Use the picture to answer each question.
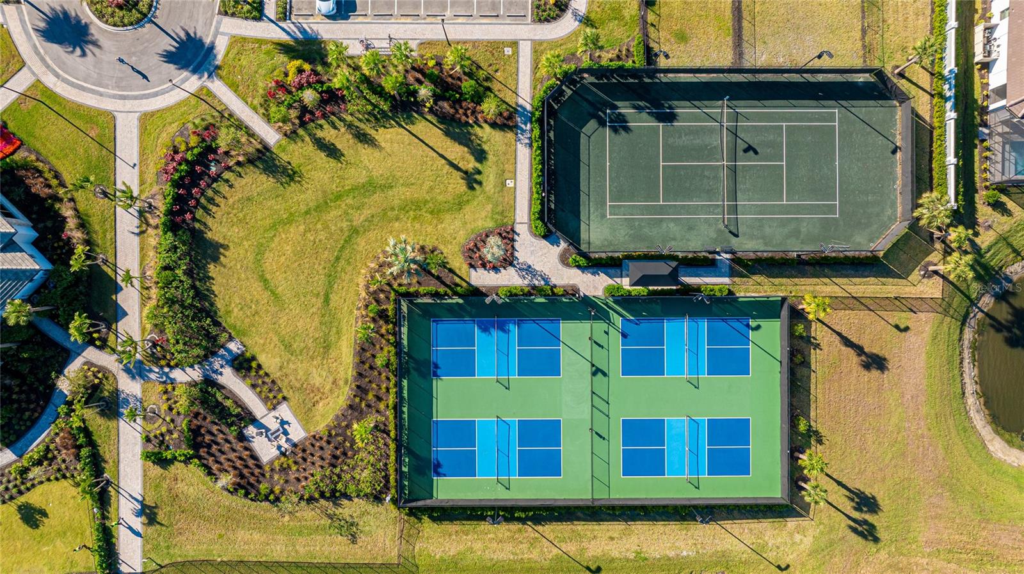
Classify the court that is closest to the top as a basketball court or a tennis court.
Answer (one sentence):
The court that is closest to the top in the image is a tennis court.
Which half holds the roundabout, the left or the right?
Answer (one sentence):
It is on the left.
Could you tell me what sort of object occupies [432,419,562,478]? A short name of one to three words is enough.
sports court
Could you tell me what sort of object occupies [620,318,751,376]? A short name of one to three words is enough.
sports court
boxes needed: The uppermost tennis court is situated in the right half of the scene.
[545,76,896,252]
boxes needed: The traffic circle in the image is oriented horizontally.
[1,0,237,112]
